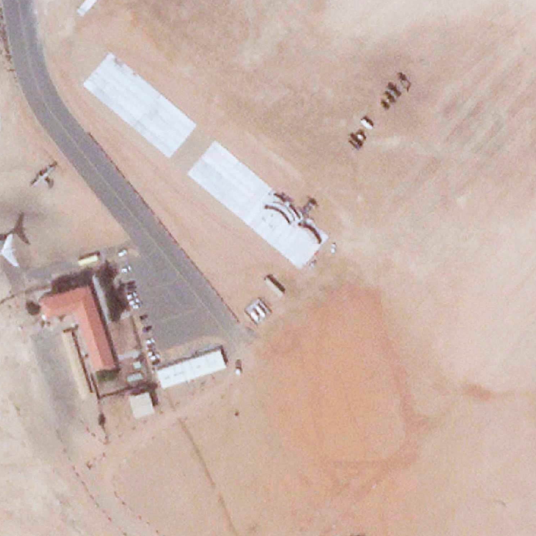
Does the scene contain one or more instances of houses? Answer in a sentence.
Yes, I can see a house in this picture.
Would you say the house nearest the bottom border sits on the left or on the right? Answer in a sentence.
The house nearest the bottom border is on the left side of the image.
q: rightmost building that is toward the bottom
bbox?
[157,348,225,389]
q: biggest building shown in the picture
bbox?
[40,287,117,373]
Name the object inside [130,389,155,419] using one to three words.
house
